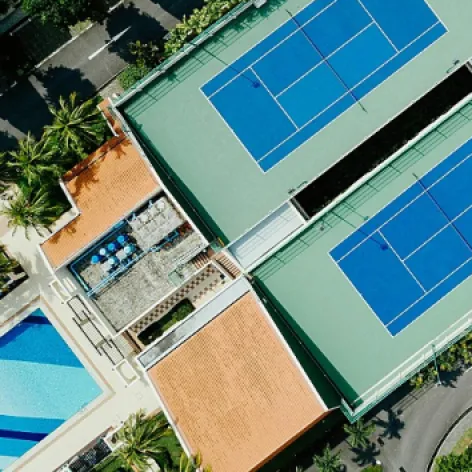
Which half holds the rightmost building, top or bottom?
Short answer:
bottom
